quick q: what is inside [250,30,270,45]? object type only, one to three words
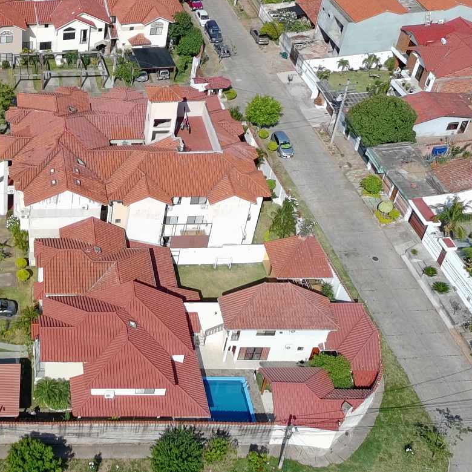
car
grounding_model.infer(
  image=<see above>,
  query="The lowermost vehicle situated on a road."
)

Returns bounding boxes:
[268,130,295,158]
